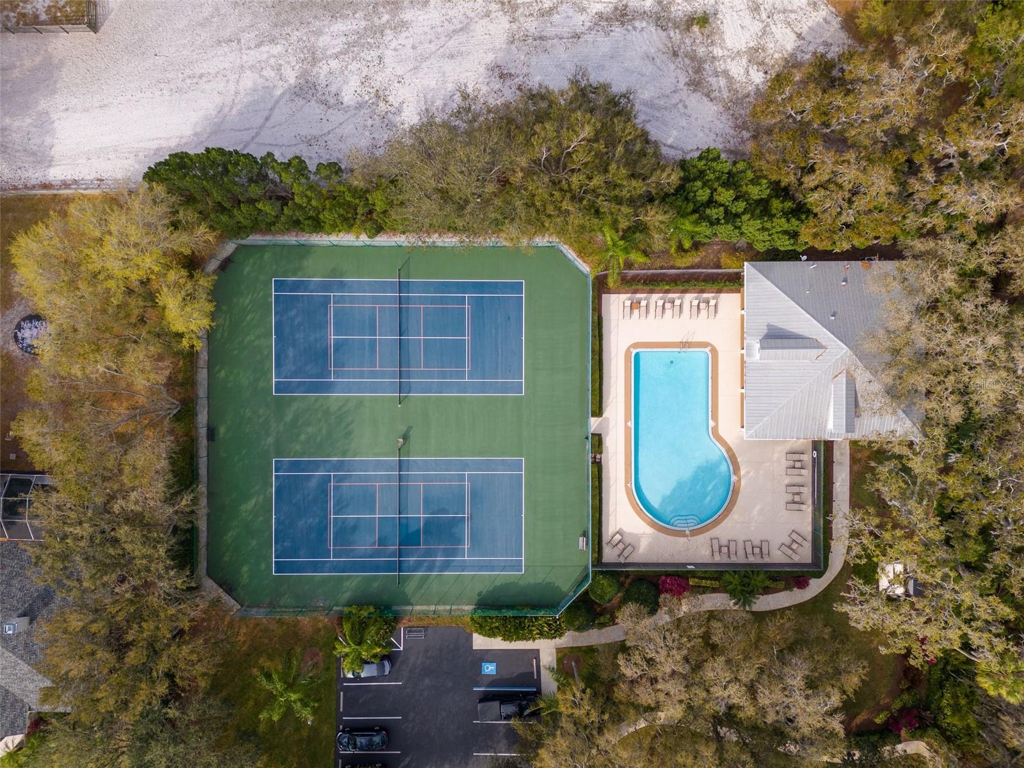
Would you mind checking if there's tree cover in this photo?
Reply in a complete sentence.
Yes, there is tree cover in the image.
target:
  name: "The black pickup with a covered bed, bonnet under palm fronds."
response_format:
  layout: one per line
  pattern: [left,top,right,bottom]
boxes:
[477,694,540,723]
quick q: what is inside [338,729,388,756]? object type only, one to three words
car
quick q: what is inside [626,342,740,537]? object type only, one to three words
swimming pool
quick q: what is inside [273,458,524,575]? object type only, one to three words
tennis court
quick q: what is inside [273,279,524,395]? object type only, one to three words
tennis court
